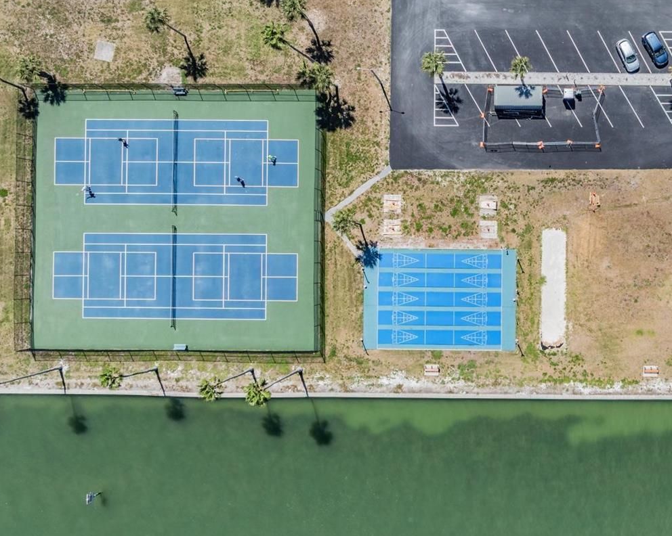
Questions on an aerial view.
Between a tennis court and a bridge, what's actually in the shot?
tennis court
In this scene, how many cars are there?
2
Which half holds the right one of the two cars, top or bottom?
top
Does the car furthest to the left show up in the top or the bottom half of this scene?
top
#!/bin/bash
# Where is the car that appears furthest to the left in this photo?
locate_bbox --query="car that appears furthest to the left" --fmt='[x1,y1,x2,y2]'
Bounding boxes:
[616,35,640,72]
